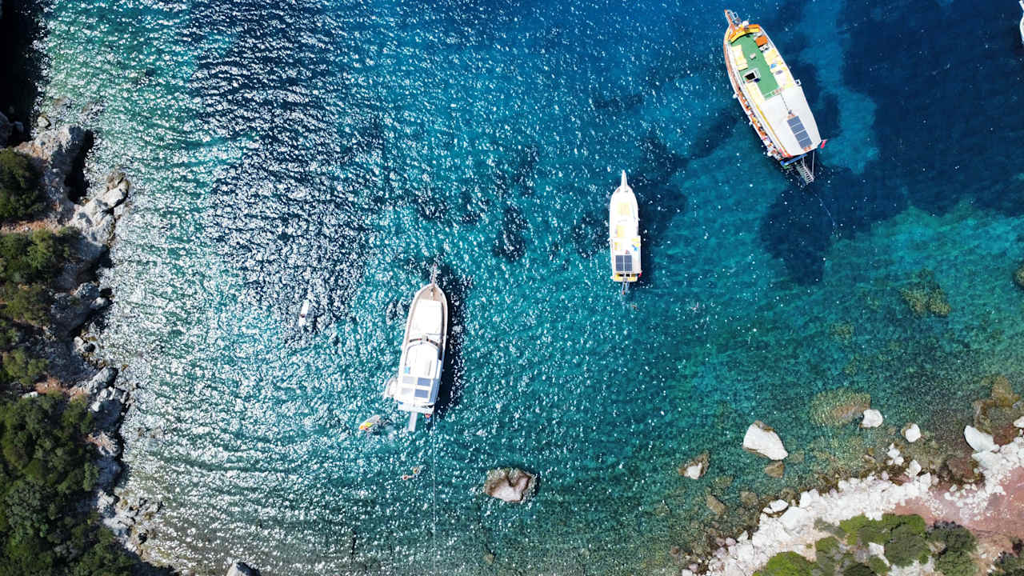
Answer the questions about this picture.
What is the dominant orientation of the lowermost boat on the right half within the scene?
from top to bottom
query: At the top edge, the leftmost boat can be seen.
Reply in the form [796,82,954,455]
[723,6,830,184]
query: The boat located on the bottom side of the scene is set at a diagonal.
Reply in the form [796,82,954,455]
[359,415,380,431]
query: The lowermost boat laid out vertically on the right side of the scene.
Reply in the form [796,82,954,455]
[607,170,642,294]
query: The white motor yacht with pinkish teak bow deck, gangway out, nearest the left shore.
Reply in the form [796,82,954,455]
[395,265,448,436]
